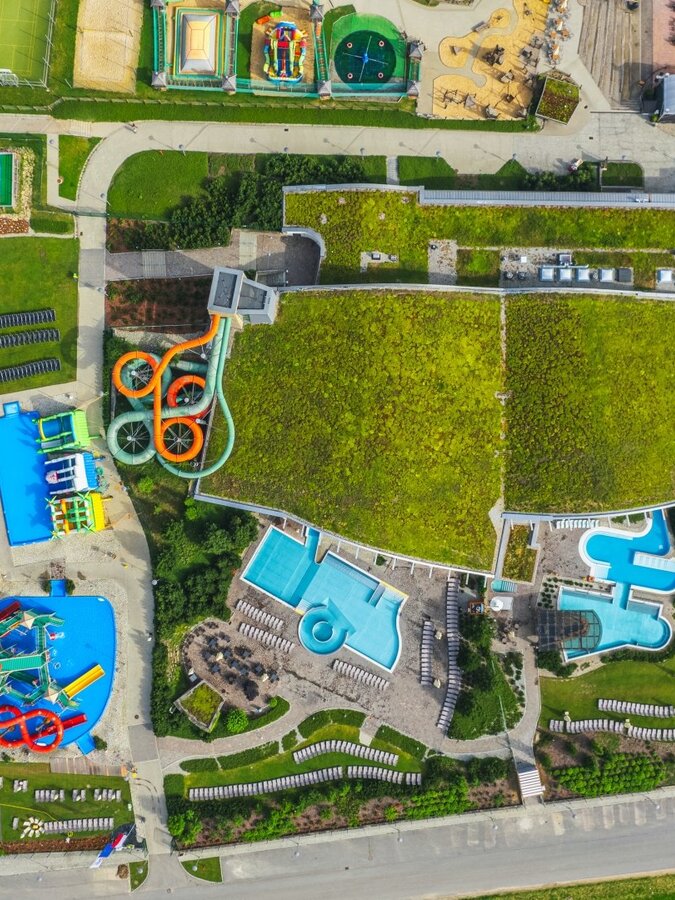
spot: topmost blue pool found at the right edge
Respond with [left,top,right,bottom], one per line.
[580,509,675,592]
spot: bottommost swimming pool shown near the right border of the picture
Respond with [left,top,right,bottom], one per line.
[556,582,673,662]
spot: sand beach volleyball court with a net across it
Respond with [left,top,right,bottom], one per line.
[73,0,142,93]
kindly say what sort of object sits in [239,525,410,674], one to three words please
swimming pool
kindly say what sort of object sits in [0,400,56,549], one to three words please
swimming pool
